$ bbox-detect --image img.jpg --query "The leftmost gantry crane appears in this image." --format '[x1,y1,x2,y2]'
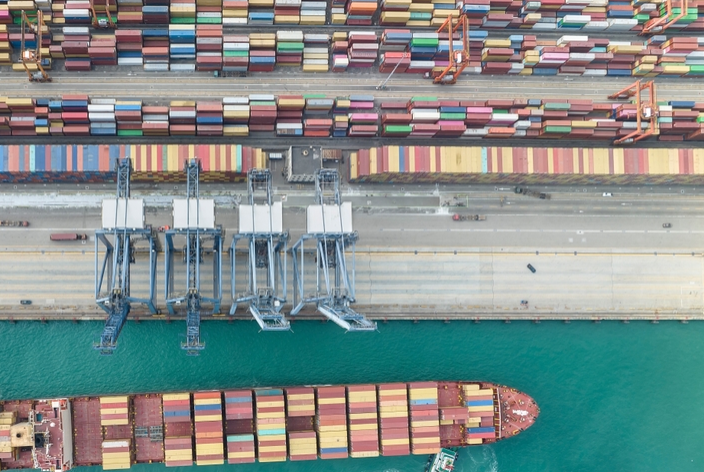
[20,10,54,79]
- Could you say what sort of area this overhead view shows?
port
